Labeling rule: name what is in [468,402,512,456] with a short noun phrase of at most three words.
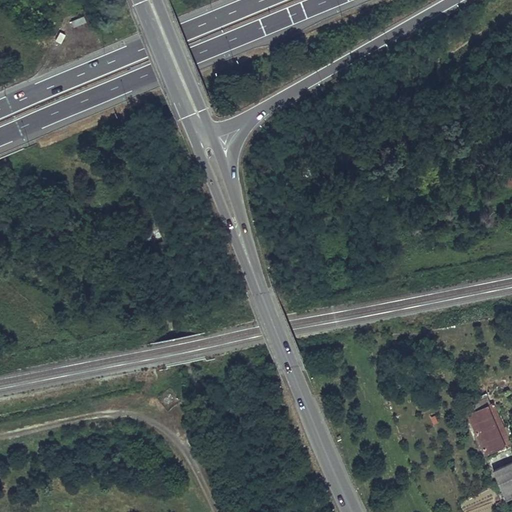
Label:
house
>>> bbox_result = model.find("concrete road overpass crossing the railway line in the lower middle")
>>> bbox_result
[248,291,305,366]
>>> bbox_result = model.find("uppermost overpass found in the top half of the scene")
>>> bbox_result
[127,0,210,114]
